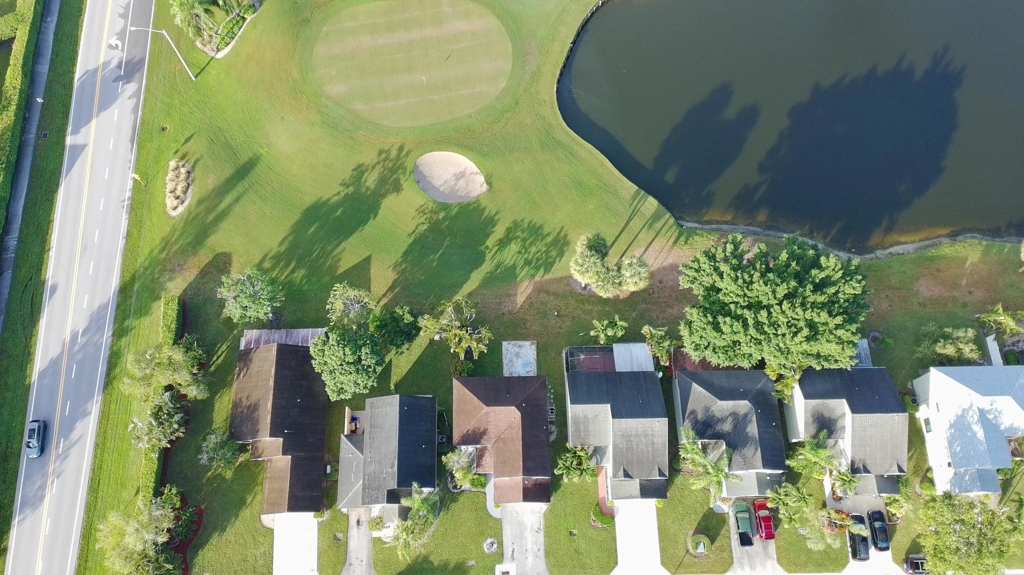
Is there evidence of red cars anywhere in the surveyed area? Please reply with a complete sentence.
Yes, looking at the shot, I can spot a red car.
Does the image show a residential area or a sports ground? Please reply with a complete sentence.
This looks like a residential area.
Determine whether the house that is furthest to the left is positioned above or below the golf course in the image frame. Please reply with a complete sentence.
As seen from overhead, the house that is furthest to the left falls below the golf course in the picture.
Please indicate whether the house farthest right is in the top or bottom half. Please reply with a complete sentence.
The bottom half of the photo is where the house farthest right is.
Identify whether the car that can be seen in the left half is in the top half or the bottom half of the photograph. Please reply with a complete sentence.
The car that can be seen in the left half is in the bottom half of the image.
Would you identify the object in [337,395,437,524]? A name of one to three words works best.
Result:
house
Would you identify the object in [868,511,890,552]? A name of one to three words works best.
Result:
car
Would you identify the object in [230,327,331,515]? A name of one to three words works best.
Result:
house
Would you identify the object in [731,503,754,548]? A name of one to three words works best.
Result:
truck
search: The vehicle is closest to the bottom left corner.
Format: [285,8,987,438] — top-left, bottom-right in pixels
[24,420,48,458]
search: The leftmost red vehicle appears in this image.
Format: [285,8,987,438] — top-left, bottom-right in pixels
[753,500,775,541]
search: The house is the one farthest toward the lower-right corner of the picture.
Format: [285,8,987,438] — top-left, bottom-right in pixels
[911,365,1024,496]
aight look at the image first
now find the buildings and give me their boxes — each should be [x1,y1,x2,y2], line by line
[790,368,908,497]
[230,327,331,515]
[452,341,551,504]
[911,365,1024,496]
[672,370,787,498]
[337,395,437,524]
[566,343,668,502]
